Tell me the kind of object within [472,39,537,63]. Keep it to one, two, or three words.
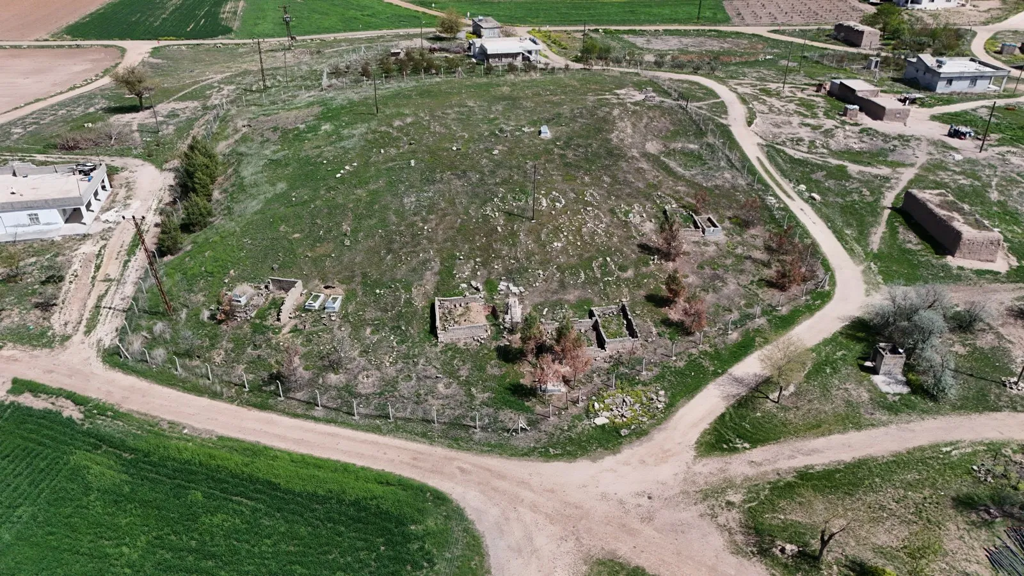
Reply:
house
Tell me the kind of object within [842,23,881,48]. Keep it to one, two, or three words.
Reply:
building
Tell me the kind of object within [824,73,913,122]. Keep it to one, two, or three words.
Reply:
house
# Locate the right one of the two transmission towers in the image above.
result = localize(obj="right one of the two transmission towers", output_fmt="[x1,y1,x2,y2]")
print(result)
[251,38,267,91]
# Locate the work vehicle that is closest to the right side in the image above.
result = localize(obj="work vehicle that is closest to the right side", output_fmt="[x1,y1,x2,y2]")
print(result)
[947,124,974,141]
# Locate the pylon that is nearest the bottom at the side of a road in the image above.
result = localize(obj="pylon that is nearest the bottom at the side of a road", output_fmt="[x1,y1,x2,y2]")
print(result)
[120,214,176,315]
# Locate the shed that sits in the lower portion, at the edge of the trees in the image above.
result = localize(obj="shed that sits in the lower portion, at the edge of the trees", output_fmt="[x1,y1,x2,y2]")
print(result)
[862,339,921,393]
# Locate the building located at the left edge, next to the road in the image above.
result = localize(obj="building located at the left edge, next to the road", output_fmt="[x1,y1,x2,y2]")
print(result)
[0,161,126,237]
